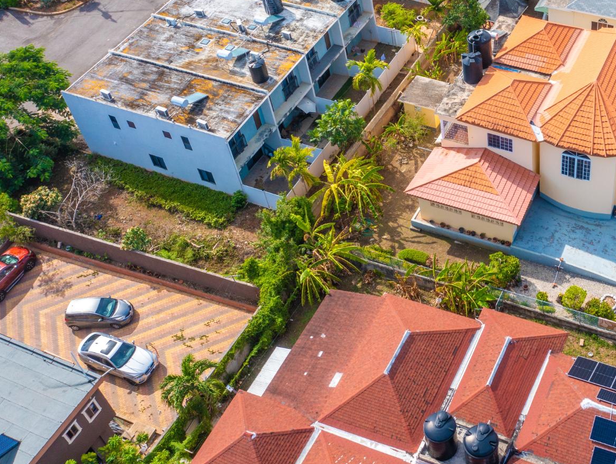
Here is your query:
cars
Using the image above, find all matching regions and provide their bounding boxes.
[0,238,40,297]
[56,291,136,329]
[73,325,159,384]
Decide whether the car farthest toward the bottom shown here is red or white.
white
